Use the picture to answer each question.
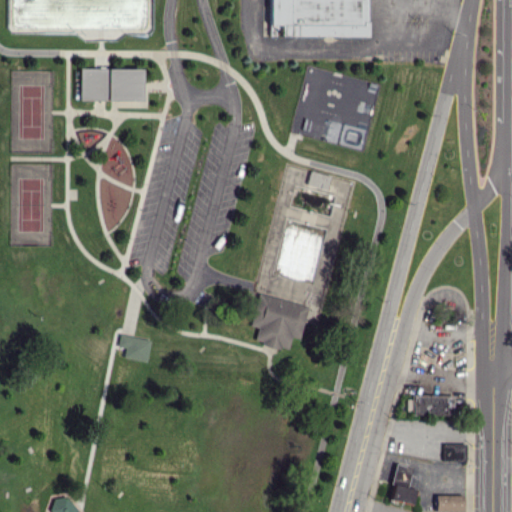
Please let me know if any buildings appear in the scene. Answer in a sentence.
Yes, the photo shows a building.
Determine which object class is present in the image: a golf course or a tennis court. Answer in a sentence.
This aerial view contains a tennis court.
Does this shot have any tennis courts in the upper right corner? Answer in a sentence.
No, no tennis court is visible in the upper right corner.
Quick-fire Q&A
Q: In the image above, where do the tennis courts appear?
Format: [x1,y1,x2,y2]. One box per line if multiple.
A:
[10,163,52,246]
[10,70,52,152]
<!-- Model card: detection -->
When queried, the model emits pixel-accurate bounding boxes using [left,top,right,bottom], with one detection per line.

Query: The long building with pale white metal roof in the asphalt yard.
[272,0,372,42]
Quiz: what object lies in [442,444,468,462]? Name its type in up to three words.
building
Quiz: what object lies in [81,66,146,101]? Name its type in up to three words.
building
